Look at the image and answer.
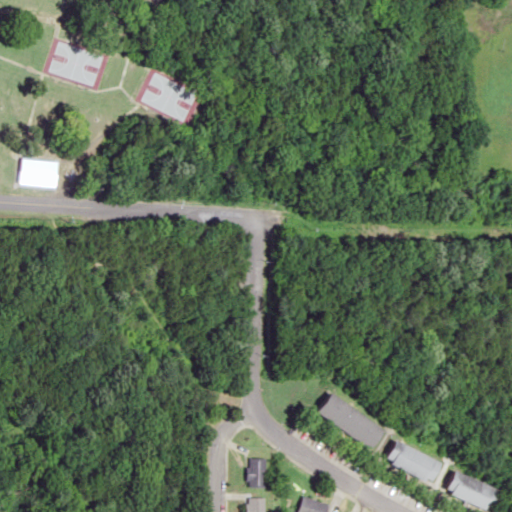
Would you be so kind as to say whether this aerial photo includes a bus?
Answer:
No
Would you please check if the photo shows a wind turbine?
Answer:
No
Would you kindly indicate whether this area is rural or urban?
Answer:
rural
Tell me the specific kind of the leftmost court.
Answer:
basketball court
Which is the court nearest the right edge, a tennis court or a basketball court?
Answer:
basketball court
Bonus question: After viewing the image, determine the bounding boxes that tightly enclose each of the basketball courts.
[136,70,197,123]
[43,39,108,90]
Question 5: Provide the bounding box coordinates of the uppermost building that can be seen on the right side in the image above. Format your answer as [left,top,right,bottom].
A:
[320,395,385,448]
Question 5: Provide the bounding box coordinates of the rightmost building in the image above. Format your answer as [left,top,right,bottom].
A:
[448,472,497,510]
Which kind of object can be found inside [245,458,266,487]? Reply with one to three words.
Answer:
house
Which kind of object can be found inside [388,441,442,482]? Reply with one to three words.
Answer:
building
